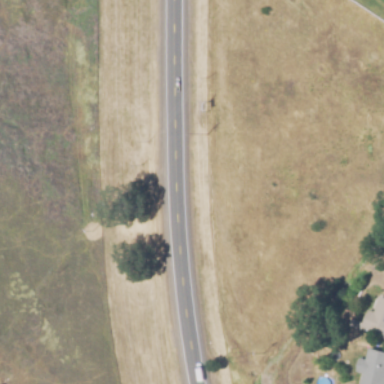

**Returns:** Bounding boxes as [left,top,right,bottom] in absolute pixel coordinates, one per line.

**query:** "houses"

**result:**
[360,292,384,346]
[352,350,384,384]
